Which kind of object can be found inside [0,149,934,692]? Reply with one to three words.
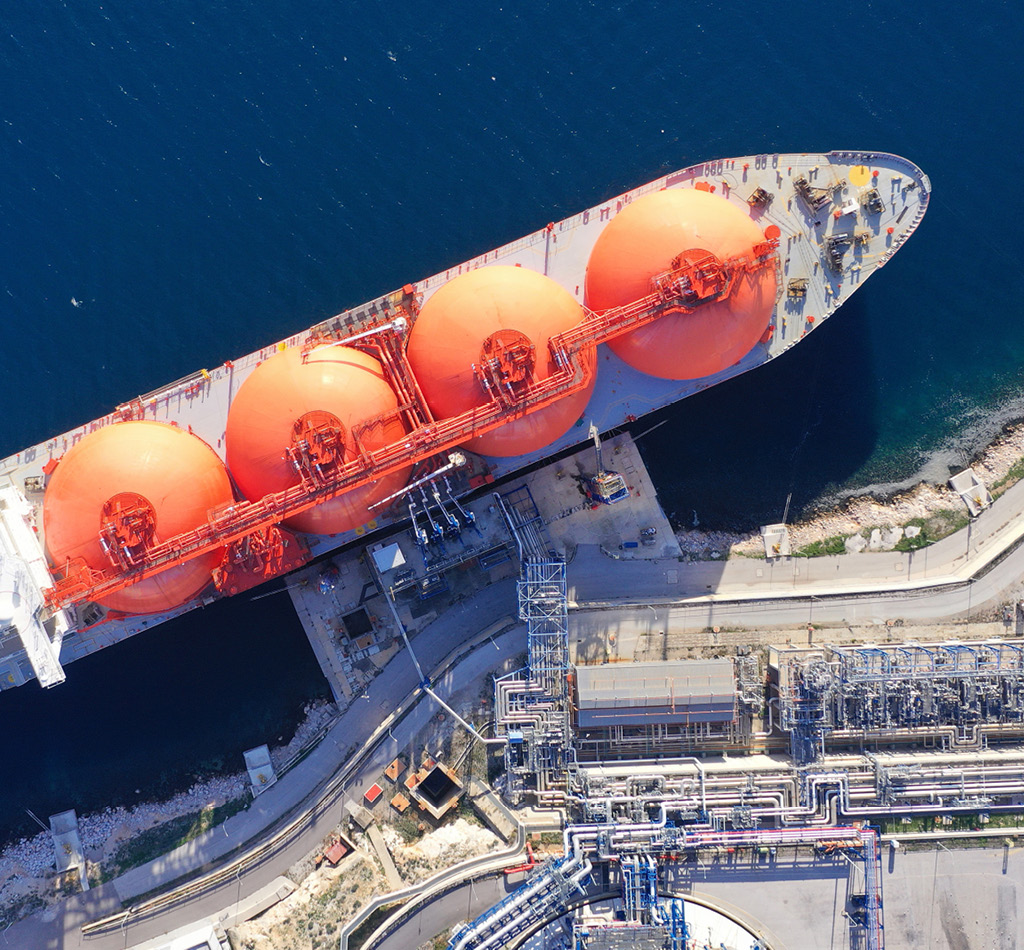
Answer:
ship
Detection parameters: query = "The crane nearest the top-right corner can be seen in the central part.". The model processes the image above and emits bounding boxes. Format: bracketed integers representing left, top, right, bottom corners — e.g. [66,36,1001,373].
[589,420,629,502]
